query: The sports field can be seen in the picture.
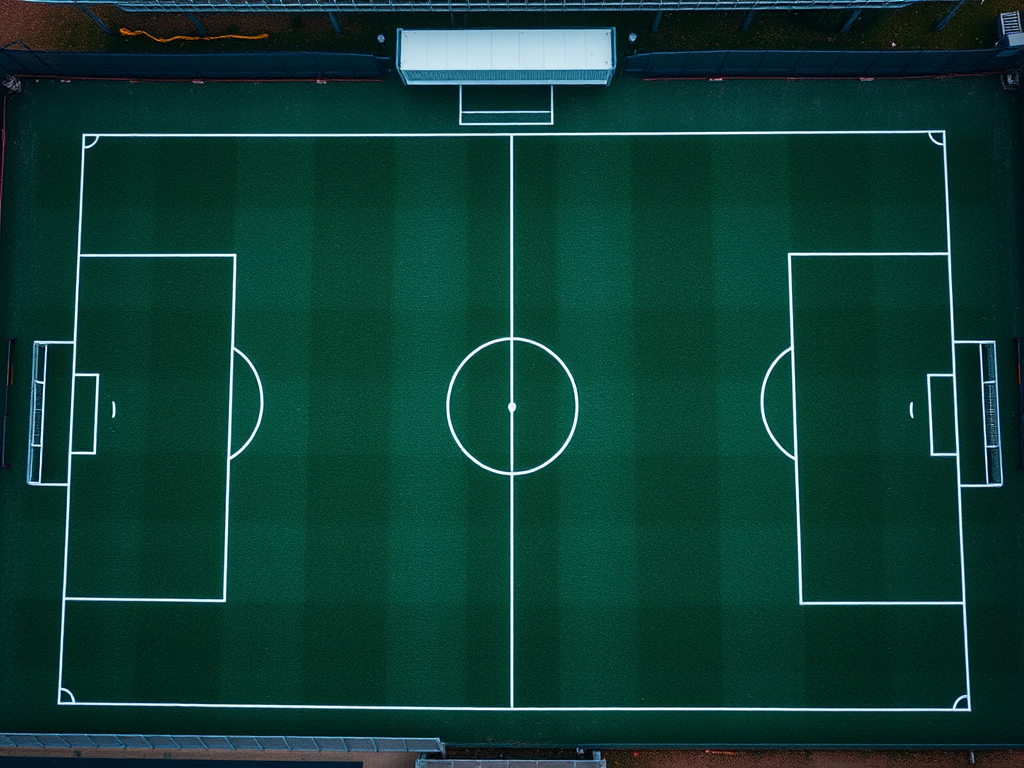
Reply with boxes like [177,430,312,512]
[60,132,968,708]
